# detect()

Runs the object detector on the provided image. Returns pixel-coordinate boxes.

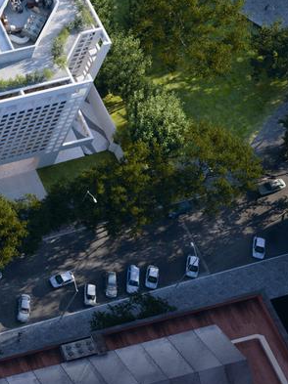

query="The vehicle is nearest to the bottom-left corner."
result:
[15,293,33,323]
